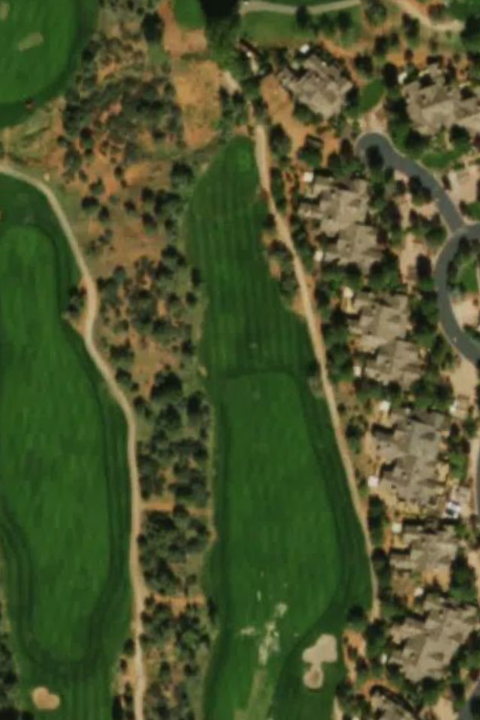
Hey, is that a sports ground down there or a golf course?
golf course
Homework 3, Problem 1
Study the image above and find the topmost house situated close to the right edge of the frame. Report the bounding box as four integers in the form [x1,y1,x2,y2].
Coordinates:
[399,60,480,136]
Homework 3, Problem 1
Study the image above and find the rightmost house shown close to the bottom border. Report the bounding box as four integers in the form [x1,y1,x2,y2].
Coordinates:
[397,596,480,687]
